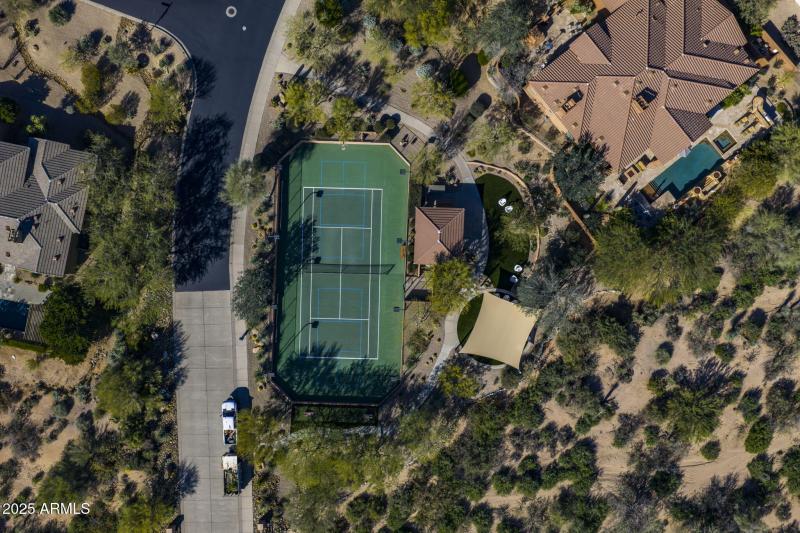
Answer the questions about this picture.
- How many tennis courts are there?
1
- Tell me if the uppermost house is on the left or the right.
right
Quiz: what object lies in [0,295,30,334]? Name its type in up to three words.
swimming pool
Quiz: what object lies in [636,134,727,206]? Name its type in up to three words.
swimming pool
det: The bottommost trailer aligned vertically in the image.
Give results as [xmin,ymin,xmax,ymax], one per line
[217,450,241,501]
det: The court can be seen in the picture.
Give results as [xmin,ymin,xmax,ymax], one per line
[277,142,409,400]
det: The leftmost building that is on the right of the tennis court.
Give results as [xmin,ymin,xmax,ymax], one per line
[413,207,465,264]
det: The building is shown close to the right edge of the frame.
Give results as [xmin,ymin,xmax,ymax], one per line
[525,0,761,173]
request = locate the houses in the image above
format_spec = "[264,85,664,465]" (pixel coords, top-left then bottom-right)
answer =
[0,140,109,275]
[525,0,761,173]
